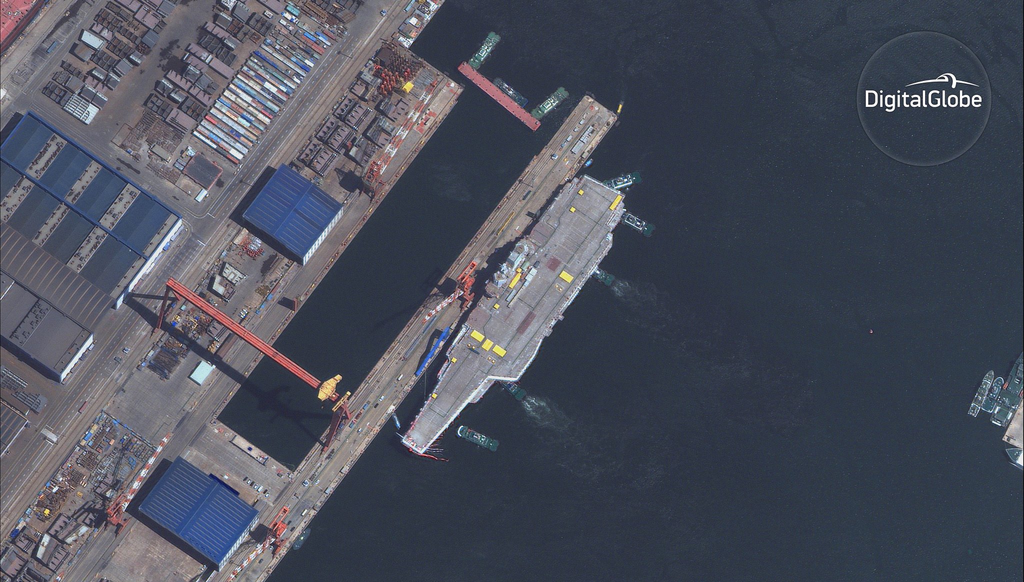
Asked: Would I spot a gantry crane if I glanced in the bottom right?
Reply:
No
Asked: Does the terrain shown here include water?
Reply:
Yes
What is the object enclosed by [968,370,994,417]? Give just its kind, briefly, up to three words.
ship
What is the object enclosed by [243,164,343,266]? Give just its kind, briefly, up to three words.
shed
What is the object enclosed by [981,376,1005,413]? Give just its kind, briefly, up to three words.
vessel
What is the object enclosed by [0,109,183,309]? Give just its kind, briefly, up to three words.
building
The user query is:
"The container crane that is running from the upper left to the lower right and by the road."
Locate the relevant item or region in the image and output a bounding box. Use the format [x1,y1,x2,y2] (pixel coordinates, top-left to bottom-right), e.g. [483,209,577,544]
[153,277,354,454]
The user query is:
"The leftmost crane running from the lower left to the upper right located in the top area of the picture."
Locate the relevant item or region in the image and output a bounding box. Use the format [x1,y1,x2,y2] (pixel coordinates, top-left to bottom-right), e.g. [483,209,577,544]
[358,79,438,205]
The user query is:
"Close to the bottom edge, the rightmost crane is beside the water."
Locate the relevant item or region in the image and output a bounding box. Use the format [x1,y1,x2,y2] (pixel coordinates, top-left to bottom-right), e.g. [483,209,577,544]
[226,505,292,582]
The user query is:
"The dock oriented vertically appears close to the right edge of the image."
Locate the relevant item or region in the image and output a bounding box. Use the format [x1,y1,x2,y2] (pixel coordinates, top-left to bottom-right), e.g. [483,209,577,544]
[1002,397,1024,448]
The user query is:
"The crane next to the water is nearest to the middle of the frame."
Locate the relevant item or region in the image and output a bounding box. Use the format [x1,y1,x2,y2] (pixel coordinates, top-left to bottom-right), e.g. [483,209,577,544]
[422,261,479,322]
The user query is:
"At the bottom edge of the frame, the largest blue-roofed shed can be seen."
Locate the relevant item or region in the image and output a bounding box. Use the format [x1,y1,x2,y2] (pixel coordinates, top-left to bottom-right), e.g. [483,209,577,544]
[138,457,259,570]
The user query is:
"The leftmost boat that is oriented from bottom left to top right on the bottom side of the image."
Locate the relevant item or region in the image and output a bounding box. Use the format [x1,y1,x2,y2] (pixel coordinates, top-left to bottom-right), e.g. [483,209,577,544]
[292,527,311,551]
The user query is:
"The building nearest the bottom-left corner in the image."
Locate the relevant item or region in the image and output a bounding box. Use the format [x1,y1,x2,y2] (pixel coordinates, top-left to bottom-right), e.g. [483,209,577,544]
[0,402,28,461]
